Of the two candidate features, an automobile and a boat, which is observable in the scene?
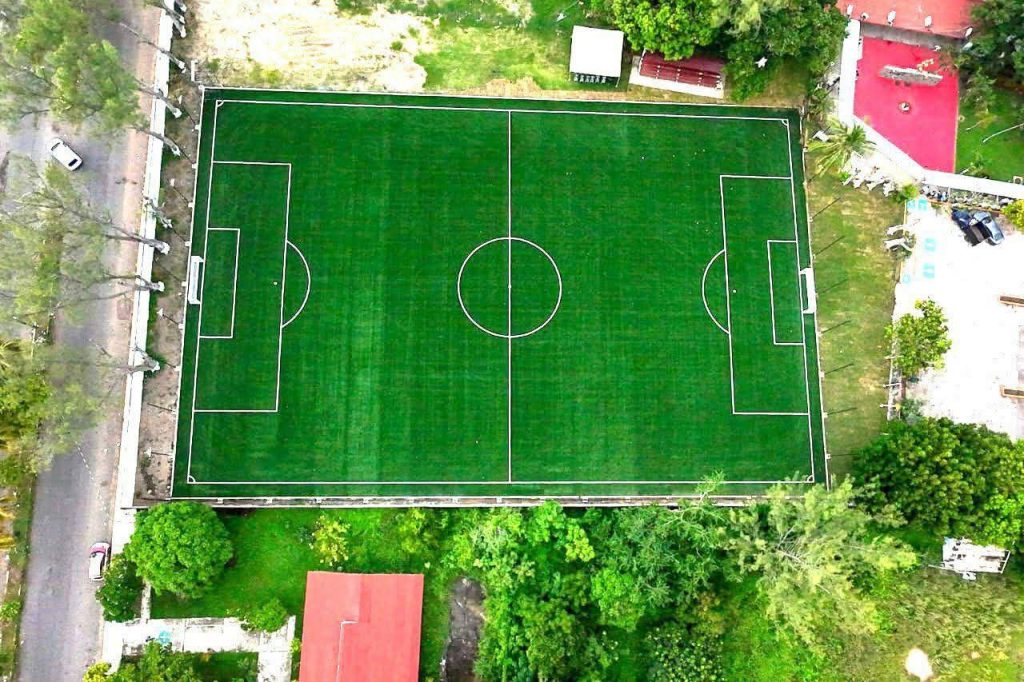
automobile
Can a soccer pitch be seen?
Yes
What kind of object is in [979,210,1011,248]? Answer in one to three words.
car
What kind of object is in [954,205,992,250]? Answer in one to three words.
truck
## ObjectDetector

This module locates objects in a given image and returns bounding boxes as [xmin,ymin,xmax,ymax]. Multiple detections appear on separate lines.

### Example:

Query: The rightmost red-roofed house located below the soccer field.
[299,572,424,682]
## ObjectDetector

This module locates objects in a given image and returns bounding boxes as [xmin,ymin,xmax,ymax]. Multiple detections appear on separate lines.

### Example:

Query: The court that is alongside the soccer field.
[855,35,968,174]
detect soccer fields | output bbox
[169,86,830,498]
